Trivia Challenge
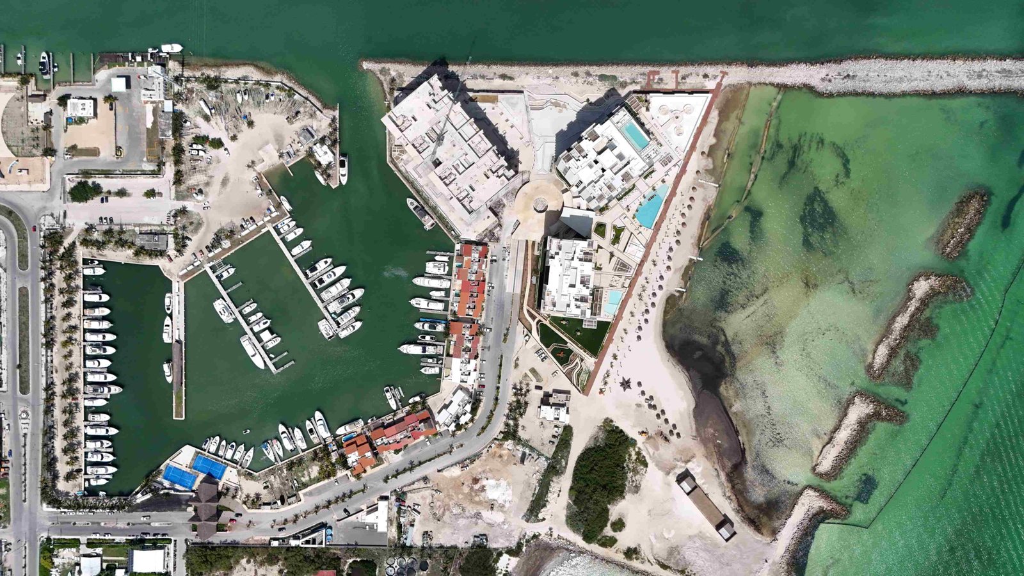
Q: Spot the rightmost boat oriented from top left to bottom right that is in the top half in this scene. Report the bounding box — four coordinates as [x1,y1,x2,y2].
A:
[406,198,436,232]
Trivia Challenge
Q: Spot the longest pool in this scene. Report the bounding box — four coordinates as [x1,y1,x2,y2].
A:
[635,184,669,229]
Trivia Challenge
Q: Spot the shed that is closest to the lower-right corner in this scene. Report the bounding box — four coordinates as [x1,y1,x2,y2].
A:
[677,472,734,540]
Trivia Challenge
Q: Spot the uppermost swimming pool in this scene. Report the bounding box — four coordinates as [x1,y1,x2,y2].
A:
[619,122,649,152]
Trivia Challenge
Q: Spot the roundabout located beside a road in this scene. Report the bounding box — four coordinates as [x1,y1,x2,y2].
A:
[511,179,563,241]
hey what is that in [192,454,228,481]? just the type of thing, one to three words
tennis court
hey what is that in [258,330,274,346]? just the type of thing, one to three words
boat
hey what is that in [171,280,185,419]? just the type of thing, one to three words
pier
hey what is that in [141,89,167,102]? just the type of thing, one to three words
shed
